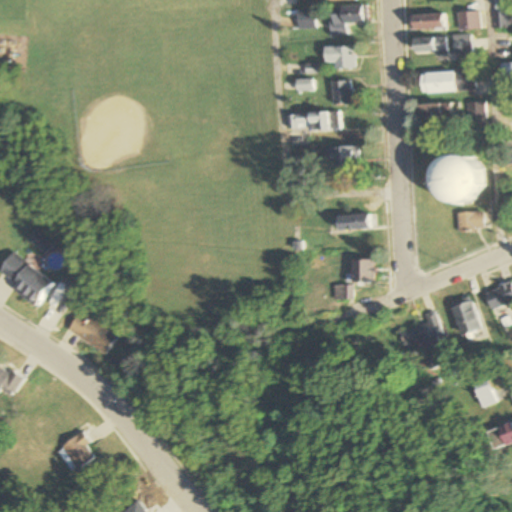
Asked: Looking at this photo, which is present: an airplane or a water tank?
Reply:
water tank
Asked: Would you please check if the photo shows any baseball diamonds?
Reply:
Yes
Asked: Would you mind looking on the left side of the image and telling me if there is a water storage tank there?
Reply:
No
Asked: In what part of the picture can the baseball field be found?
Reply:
top left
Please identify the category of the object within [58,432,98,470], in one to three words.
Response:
house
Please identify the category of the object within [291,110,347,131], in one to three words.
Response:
house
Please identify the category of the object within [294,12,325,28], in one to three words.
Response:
building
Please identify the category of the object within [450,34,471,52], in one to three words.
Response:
building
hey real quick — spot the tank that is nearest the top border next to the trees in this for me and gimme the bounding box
[428,154,486,206]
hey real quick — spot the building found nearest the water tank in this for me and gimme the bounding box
[458,211,488,230]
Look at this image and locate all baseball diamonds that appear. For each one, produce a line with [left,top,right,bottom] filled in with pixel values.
[75,89,156,174]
